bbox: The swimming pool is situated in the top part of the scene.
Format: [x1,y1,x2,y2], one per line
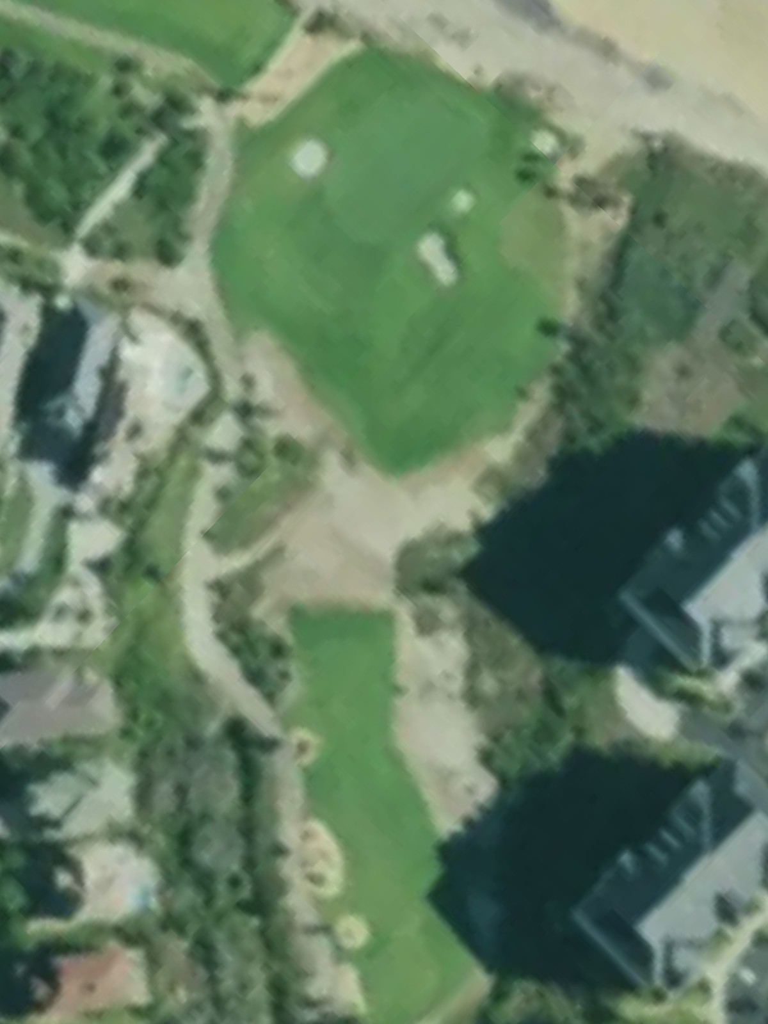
[169,365,196,395]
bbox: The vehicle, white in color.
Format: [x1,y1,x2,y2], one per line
[737,968,756,986]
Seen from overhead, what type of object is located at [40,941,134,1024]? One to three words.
house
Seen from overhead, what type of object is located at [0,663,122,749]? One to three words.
house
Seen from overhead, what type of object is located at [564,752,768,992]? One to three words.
building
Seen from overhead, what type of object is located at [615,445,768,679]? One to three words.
building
